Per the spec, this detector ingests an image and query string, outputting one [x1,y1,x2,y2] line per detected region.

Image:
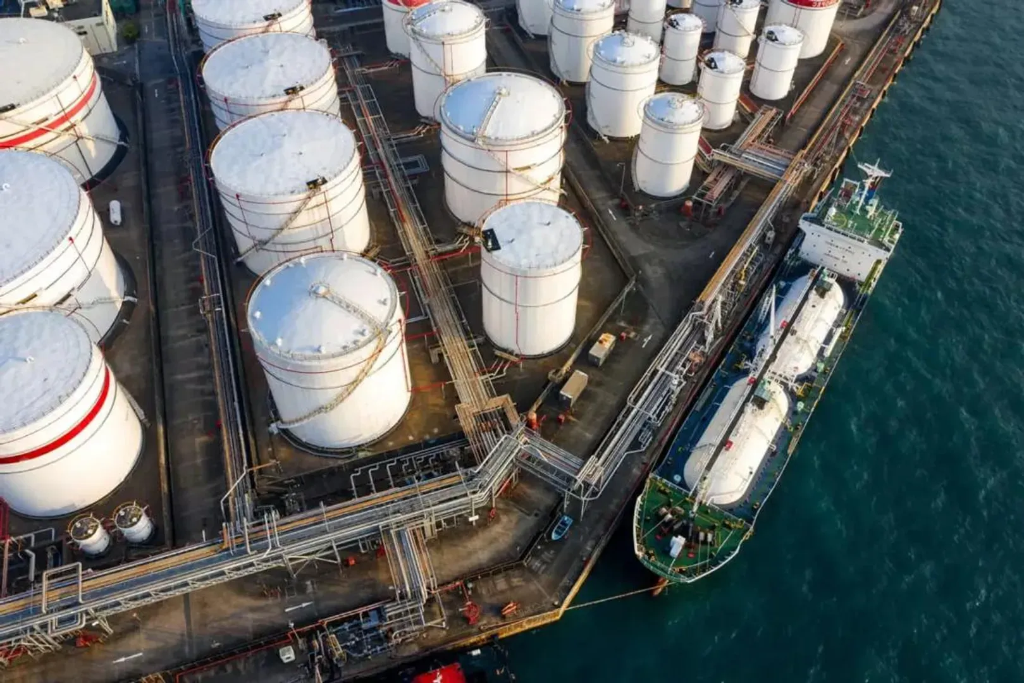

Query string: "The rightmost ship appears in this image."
[628,149,909,595]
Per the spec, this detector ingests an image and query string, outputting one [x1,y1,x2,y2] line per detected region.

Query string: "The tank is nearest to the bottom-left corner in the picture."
[66,511,112,556]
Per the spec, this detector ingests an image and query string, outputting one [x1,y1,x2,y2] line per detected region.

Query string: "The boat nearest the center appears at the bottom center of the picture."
[552,512,574,537]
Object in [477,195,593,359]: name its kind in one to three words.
storage tank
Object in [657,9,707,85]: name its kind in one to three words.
storage tank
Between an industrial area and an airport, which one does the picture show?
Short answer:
industrial area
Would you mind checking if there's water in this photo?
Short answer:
Yes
